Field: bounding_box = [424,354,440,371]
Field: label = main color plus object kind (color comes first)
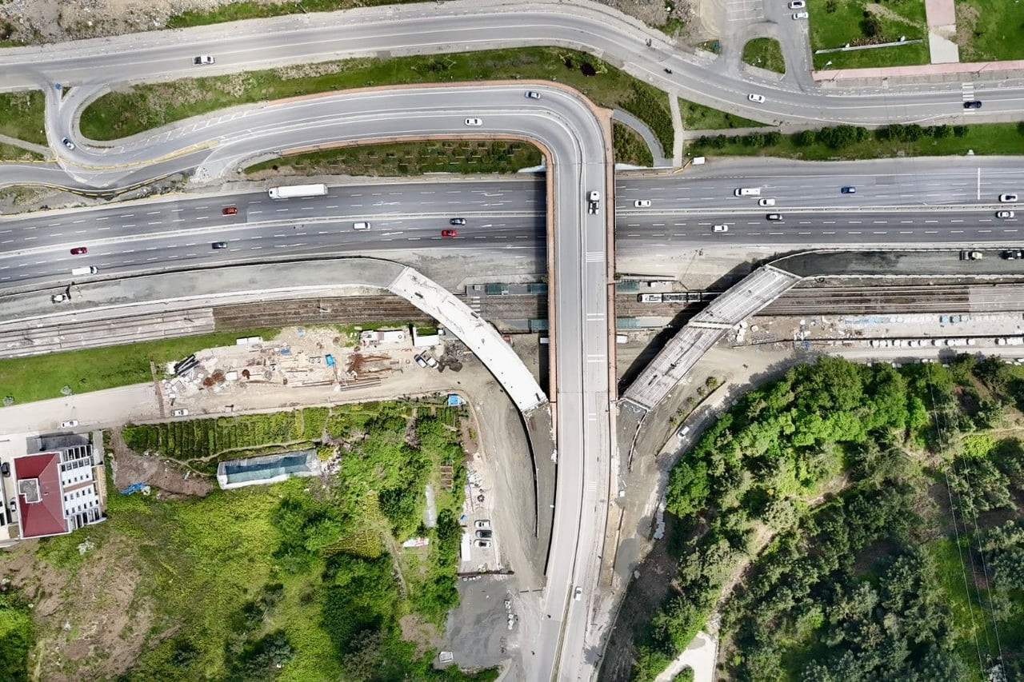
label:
white vehicle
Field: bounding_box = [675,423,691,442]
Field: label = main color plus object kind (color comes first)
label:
white vehicle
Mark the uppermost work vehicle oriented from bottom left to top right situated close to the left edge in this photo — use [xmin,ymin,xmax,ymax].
[44,279,74,308]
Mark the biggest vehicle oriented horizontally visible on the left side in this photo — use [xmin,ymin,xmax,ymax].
[267,181,327,198]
